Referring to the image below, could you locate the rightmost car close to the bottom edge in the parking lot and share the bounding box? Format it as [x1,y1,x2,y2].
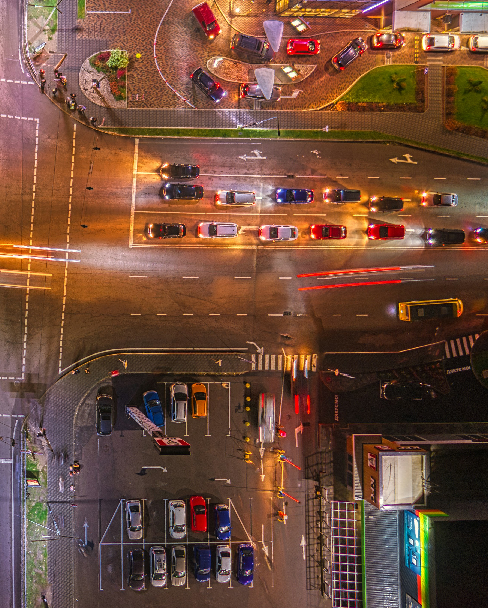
[234,542,255,584]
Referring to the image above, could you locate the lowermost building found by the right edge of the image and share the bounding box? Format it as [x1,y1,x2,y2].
[347,433,488,608]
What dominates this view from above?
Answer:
paved ground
